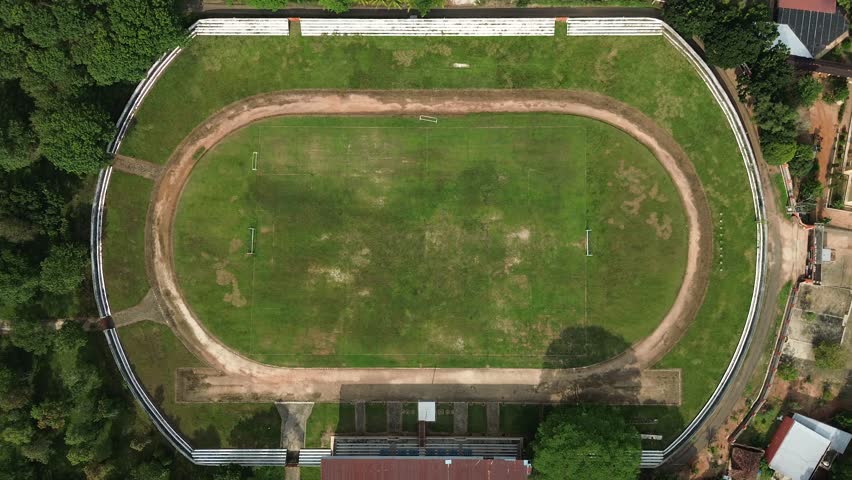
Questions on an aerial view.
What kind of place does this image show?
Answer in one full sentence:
It's a sports ground.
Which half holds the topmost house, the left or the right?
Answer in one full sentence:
The topmost house appears in the right half of the scene.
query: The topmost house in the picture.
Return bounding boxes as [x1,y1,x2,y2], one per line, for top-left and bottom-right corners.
[760,0,850,59]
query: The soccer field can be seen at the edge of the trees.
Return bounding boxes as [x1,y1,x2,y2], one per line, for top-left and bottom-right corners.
[252,126,587,355]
